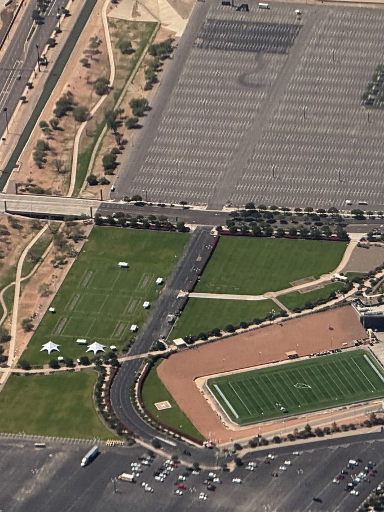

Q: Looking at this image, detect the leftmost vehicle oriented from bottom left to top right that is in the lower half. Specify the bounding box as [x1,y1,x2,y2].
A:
[78,449,99,465]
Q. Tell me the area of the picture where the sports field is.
bottom right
